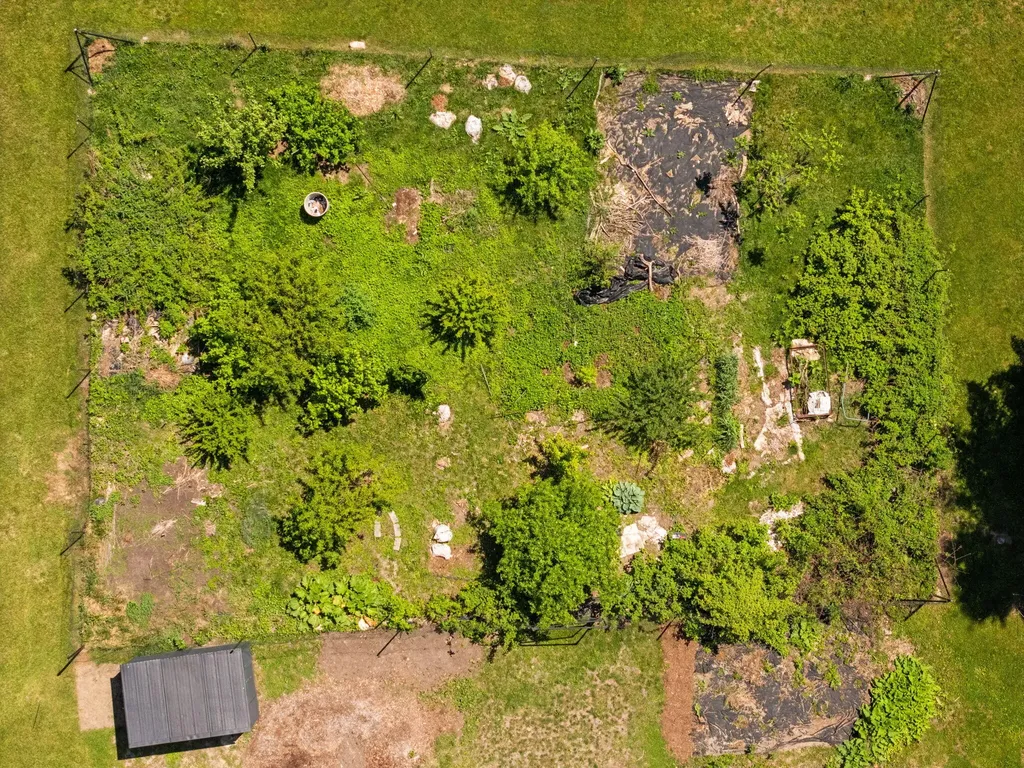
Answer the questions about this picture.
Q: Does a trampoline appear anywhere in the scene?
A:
No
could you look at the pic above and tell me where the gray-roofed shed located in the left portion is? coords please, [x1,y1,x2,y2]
[118,643,258,748]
